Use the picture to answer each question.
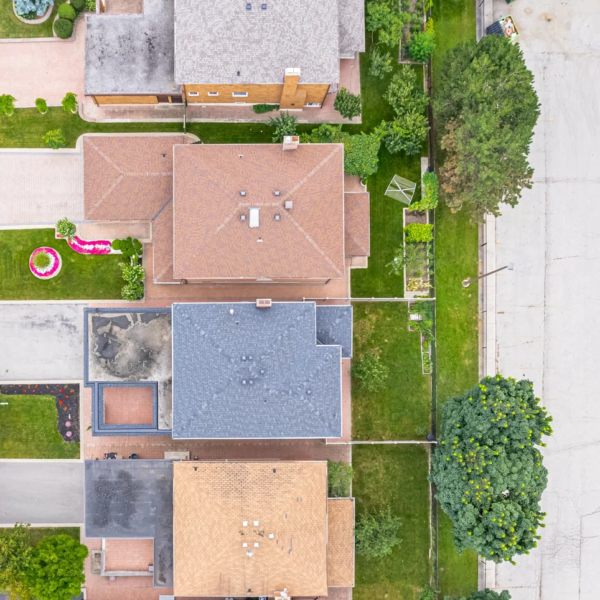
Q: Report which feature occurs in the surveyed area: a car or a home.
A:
home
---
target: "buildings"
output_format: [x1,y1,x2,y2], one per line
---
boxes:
[84,0,365,111]
[83,130,370,284]
[83,294,354,440]
[85,460,355,600]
